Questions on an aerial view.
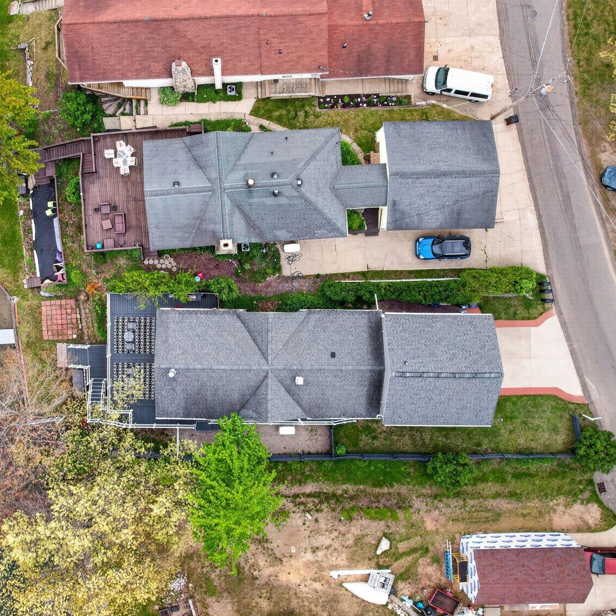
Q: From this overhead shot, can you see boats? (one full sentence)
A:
Yes, the picture does show a boat.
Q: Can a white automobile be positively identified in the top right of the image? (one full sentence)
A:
Yes, a white automobile is visible in the top right of the image.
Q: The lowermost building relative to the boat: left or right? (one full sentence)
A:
Looking at the photo, the lowermost building lies to the right of the boat.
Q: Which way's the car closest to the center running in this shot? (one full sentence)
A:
In this picture, the car closest to the center lies from side to side.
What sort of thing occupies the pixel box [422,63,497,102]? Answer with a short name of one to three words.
car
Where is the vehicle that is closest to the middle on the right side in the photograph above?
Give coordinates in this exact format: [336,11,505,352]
[414,233,471,262]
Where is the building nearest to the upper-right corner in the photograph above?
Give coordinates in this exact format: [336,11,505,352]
[376,118,501,232]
